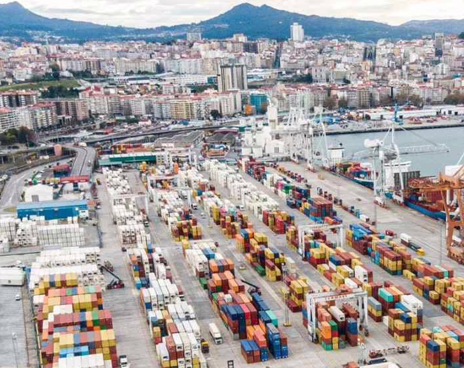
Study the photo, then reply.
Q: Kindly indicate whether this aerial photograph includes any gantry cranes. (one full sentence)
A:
Yes, a gantry crane is visible in the scene.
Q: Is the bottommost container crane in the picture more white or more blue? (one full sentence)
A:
The bottommost container crane is white.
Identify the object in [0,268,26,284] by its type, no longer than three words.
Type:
building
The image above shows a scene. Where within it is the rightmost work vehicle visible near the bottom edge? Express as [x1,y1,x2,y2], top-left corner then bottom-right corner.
[364,343,407,362]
